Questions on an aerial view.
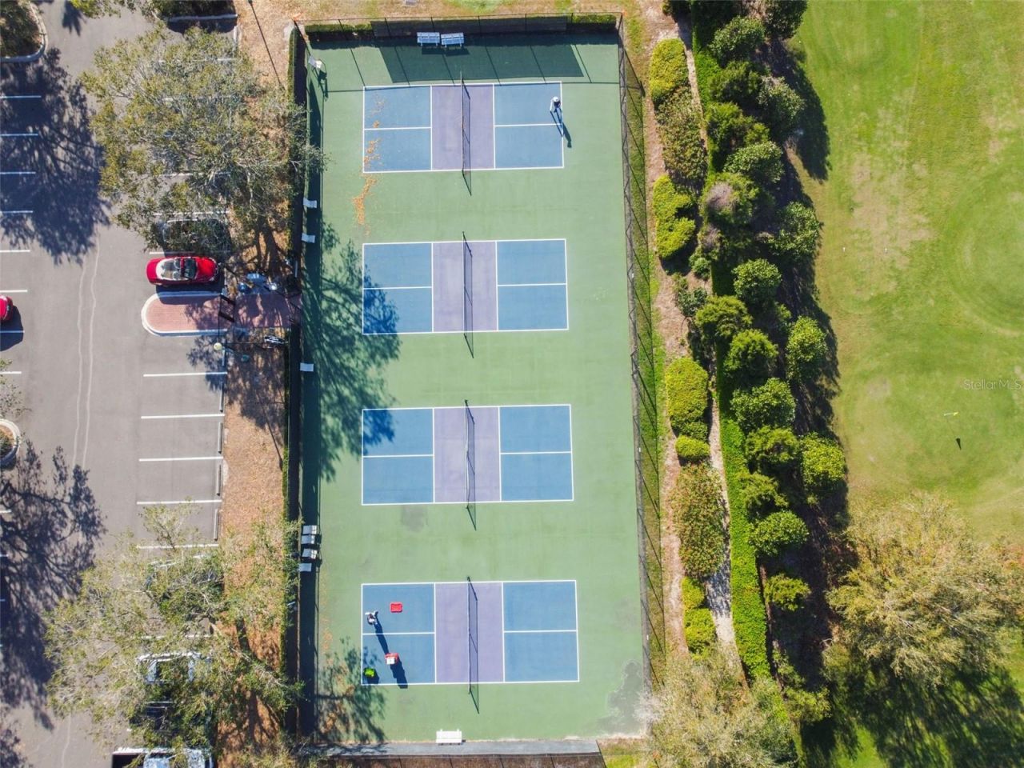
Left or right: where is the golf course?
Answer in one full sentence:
You can find the golf course on the right side of the picture.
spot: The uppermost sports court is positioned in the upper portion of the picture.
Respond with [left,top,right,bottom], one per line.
[363,81,564,173]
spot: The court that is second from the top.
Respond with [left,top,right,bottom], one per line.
[363,238,568,335]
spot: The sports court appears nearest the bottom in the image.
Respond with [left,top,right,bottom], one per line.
[362,579,579,685]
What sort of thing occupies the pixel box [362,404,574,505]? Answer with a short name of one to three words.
sports court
